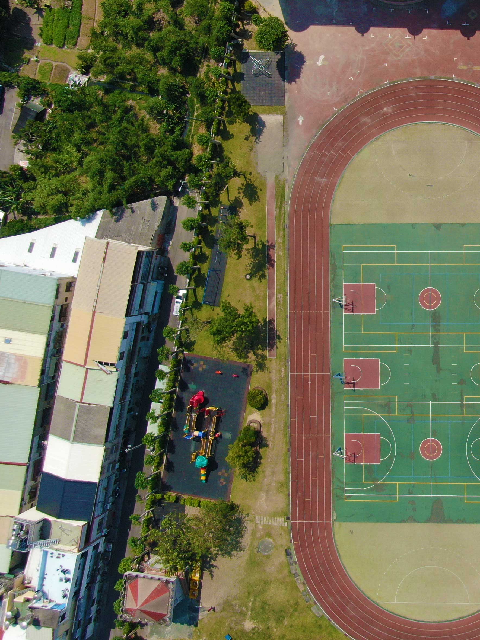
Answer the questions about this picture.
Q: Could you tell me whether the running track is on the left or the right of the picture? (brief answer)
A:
right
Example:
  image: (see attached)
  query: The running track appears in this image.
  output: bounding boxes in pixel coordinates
[289,81,480,640]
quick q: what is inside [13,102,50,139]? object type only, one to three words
shed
